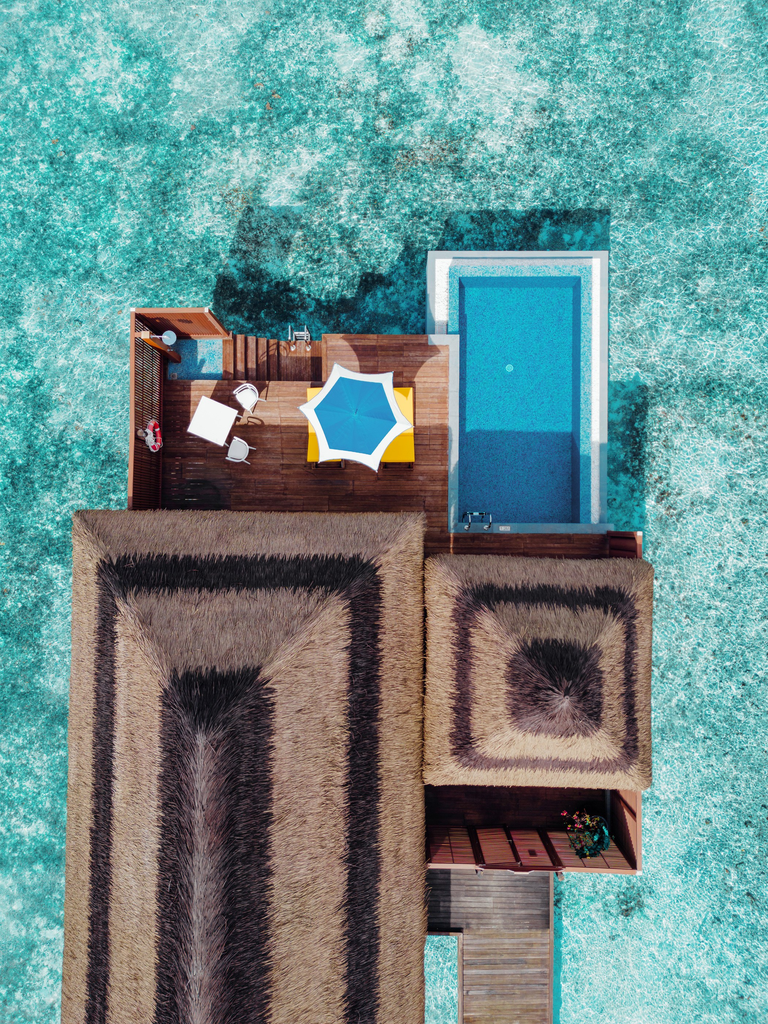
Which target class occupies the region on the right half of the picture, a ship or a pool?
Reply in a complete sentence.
Looking on the right half of the picture, you will find a pool.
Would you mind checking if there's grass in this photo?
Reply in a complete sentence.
No, grass can't be seen anywhere here.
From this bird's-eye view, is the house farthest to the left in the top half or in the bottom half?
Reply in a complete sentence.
The house farthest to the left is in the bottom half of the image.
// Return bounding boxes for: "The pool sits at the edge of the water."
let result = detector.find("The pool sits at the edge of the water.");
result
[425,251,614,532]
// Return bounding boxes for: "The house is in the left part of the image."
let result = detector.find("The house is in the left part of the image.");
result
[59,508,426,1024]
